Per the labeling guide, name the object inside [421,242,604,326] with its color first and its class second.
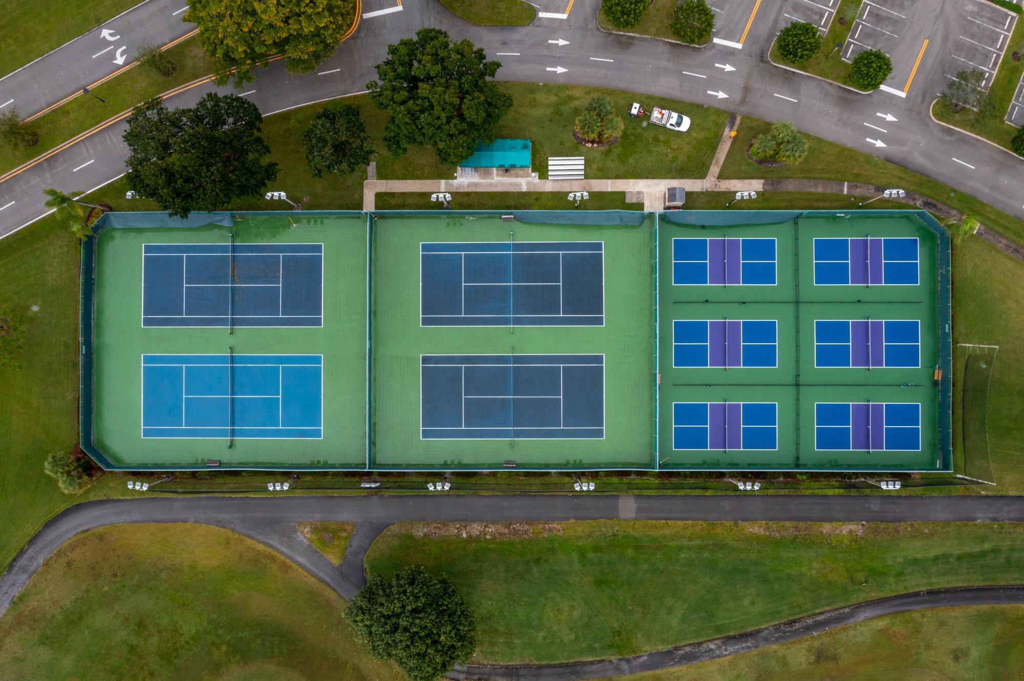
blue tennis court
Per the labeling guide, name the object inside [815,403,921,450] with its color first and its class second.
blue sports court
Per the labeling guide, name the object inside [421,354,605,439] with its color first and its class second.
blue tennis court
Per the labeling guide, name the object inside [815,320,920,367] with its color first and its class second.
blue sports court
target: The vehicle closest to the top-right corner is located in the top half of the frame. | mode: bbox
[650,103,693,129]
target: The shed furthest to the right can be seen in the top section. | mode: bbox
[663,186,686,208]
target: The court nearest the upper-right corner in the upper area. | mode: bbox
[814,238,919,285]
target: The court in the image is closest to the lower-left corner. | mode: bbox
[142,354,323,438]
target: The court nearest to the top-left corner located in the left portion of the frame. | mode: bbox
[142,244,323,327]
